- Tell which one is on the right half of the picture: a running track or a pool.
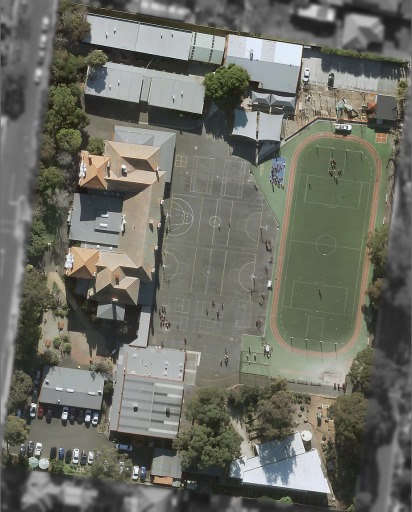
running track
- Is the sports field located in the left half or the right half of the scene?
right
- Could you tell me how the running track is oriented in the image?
up and down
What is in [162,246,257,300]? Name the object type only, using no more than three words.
basketball court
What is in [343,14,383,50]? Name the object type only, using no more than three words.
house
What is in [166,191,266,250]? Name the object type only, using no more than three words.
basketball court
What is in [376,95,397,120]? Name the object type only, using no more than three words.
shed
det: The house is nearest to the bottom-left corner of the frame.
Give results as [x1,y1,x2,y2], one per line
[22,478,56,512]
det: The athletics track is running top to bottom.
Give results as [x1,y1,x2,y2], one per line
[274,134,378,354]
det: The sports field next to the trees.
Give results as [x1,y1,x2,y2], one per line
[278,138,374,350]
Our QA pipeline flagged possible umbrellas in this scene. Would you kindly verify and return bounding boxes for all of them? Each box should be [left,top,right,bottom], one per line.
[28,458,38,469]
[38,458,50,470]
